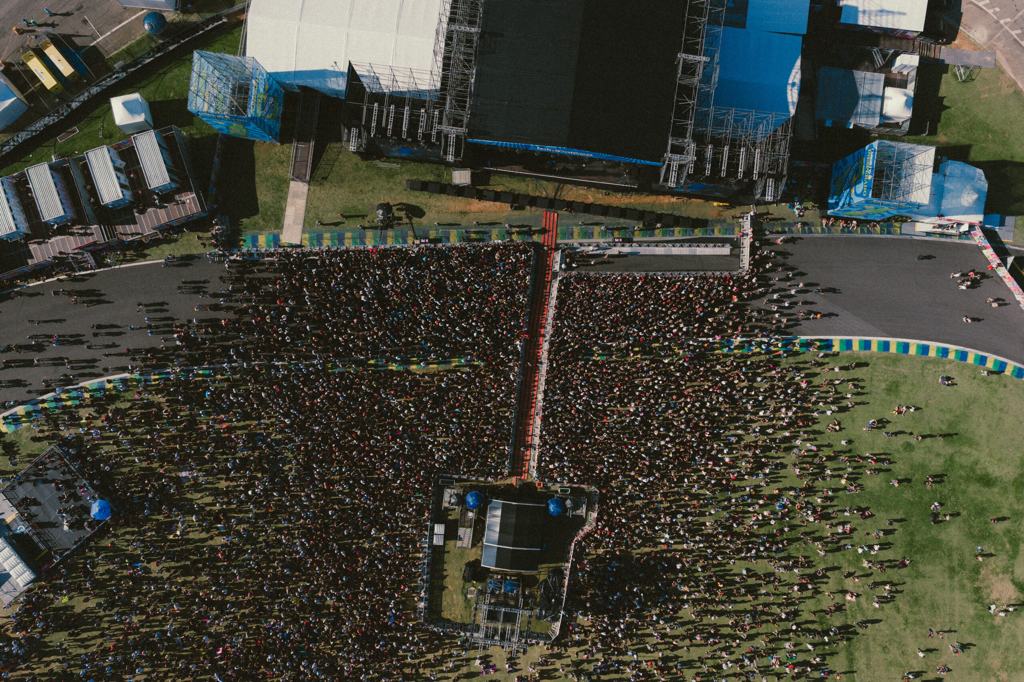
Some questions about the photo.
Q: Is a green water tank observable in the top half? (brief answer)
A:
No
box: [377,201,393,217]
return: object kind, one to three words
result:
umbrella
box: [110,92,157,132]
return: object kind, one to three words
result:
tent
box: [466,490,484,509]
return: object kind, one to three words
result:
umbrella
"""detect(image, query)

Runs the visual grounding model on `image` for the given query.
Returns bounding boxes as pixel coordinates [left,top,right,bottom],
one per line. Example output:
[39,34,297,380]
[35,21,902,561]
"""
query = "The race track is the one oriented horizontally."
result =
[0,237,1024,414]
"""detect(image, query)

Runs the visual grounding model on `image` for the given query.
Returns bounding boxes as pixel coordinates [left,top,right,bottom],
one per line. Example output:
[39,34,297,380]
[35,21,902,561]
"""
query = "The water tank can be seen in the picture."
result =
[139,10,164,35]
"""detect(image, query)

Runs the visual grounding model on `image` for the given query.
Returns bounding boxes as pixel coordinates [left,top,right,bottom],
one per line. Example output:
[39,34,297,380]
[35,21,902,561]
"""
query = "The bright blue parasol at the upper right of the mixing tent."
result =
[547,498,564,514]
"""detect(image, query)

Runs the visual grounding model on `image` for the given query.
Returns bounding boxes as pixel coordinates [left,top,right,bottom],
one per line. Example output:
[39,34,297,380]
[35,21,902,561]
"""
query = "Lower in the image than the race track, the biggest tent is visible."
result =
[481,493,546,573]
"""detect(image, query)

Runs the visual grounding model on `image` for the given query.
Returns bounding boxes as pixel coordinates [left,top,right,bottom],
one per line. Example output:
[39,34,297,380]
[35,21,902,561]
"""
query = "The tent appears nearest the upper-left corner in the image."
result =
[0,71,36,142]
